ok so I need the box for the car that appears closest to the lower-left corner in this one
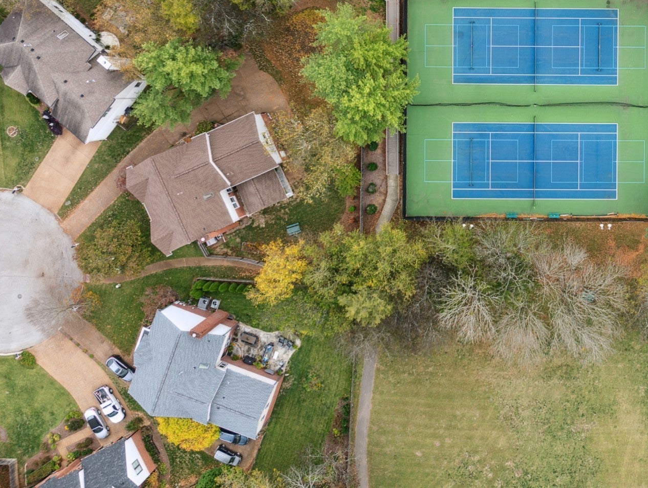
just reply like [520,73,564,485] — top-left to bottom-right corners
[84,406,111,440]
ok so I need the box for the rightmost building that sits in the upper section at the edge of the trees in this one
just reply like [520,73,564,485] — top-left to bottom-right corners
[127,113,292,256]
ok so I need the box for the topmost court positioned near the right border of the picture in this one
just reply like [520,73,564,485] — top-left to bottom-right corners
[406,0,648,105]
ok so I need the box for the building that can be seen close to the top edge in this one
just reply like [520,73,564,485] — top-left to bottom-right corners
[0,0,150,143]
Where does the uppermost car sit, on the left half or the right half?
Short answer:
left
